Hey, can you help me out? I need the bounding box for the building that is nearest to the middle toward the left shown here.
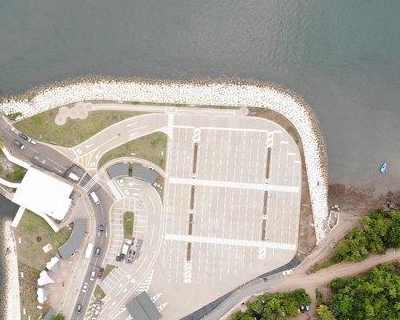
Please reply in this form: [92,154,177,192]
[132,164,159,183]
